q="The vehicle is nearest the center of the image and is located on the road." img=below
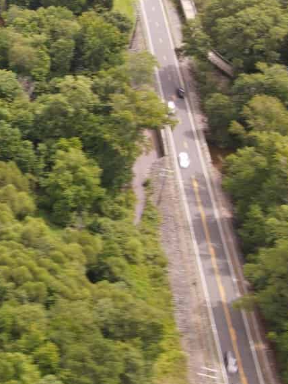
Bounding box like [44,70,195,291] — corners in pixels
[178,150,190,166]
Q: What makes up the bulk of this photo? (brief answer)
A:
trees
